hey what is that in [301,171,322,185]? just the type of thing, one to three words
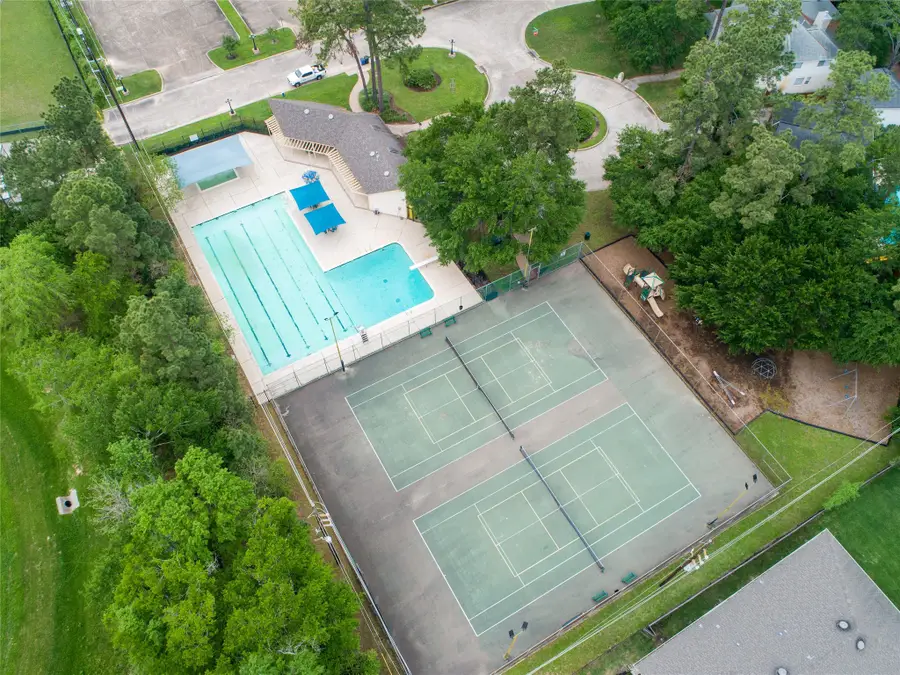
umbrella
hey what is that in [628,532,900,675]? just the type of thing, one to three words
house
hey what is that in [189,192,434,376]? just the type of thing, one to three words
swimming pool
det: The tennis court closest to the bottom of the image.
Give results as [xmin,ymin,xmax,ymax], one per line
[413,402,702,636]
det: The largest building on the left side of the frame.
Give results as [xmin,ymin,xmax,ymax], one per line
[260,98,420,221]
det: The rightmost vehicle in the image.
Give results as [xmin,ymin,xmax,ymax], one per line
[284,61,329,85]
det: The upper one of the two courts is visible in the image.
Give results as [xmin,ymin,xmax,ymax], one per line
[345,301,608,492]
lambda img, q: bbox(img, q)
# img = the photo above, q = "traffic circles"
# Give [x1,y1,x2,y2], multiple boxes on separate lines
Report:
[555,105,606,152]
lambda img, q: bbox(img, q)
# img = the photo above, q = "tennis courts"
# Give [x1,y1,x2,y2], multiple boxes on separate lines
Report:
[413,402,702,636]
[345,301,608,492]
